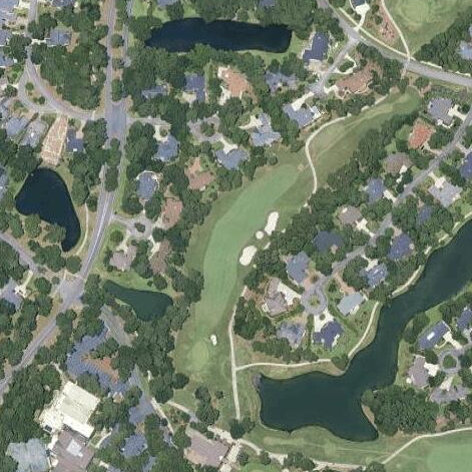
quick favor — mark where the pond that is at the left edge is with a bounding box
[16,168,81,251]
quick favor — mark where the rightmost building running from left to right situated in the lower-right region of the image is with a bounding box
[430,383,467,405]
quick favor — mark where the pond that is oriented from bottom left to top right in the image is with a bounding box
[259,221,472,442]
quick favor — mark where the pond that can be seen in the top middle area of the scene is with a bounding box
[145,19,291,53]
